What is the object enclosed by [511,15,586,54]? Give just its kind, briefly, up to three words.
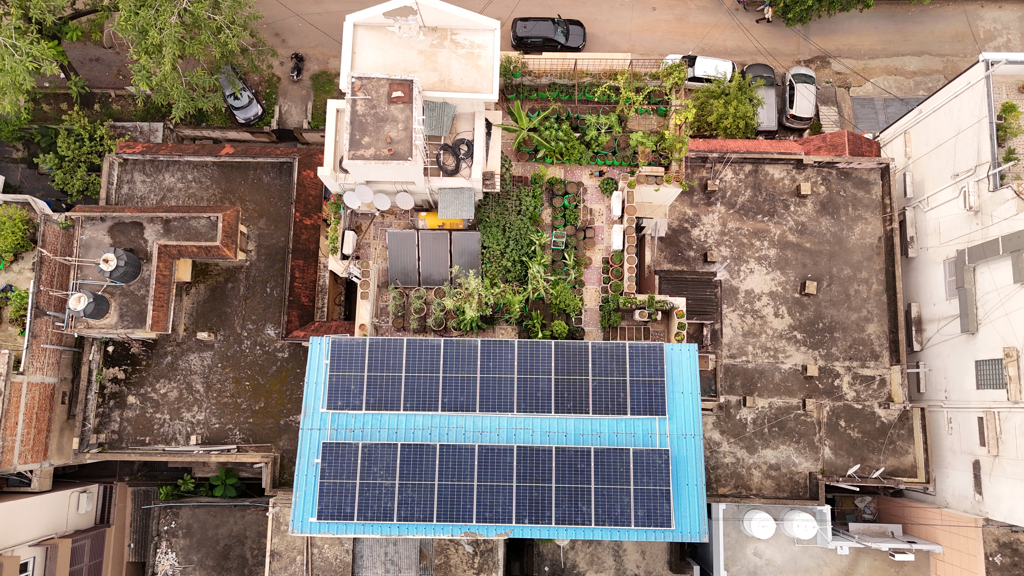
car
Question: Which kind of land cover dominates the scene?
buildings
